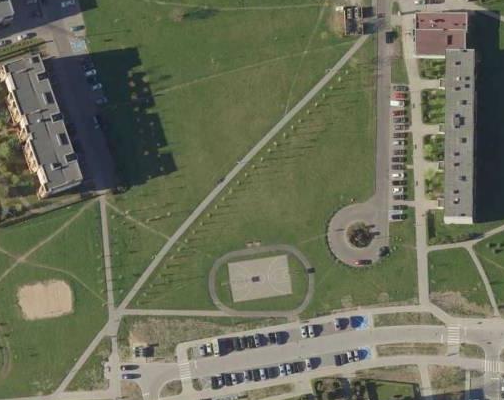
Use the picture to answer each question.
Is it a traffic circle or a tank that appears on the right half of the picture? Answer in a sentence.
What appears on the right half of the picture is a traffic circle.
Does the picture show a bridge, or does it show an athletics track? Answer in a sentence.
Looking from above, you can make out an athletics track.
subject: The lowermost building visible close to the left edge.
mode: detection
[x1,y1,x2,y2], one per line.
[0,54,83,196]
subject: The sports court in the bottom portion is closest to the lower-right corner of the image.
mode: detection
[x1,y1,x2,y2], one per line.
[229,255,293,302]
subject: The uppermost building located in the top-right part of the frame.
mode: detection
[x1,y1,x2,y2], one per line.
[415,12,467,59]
